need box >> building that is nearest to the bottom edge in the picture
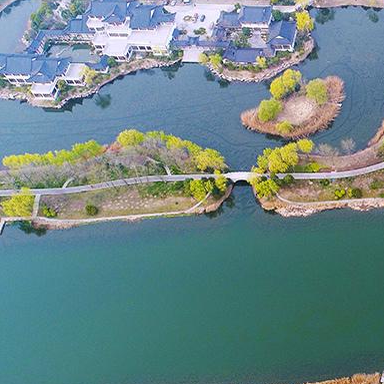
[30,82,64,100]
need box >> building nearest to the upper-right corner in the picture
[268,22,300,55]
